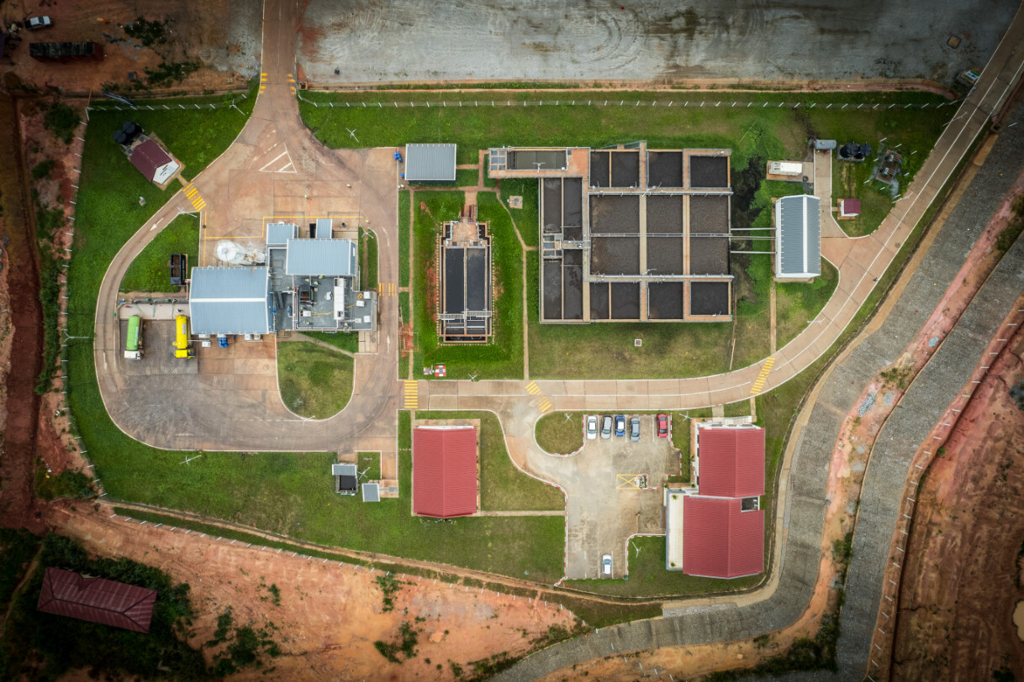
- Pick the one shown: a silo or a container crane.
silo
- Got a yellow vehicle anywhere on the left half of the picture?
Yes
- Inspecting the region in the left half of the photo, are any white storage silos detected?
Yes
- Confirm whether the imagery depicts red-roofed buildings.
Yes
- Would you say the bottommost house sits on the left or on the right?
left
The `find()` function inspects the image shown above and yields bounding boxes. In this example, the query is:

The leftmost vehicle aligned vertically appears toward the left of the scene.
[123,316,148,362]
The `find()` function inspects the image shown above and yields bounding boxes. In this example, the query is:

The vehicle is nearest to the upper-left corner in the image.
[24,15,55,31]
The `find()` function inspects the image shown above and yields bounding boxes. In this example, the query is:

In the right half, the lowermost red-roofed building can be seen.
[662,486,764,581]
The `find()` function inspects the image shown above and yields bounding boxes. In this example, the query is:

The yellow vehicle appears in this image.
[178,317,197,361]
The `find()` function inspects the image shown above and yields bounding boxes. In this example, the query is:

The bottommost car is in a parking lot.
[601,552,613,576]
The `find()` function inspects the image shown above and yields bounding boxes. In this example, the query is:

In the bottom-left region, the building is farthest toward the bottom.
[37,567,158,633]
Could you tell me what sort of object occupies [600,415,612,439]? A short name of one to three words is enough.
vehicle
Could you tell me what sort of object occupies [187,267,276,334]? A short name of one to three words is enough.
building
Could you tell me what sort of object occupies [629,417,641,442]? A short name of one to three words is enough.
vehicle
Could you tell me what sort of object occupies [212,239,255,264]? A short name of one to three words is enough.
silo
